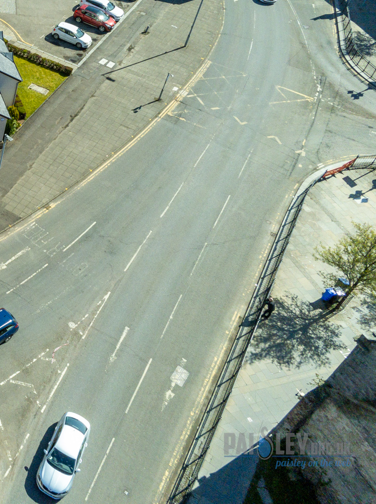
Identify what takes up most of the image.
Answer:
paved ground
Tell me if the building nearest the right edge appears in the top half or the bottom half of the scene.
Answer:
bottom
